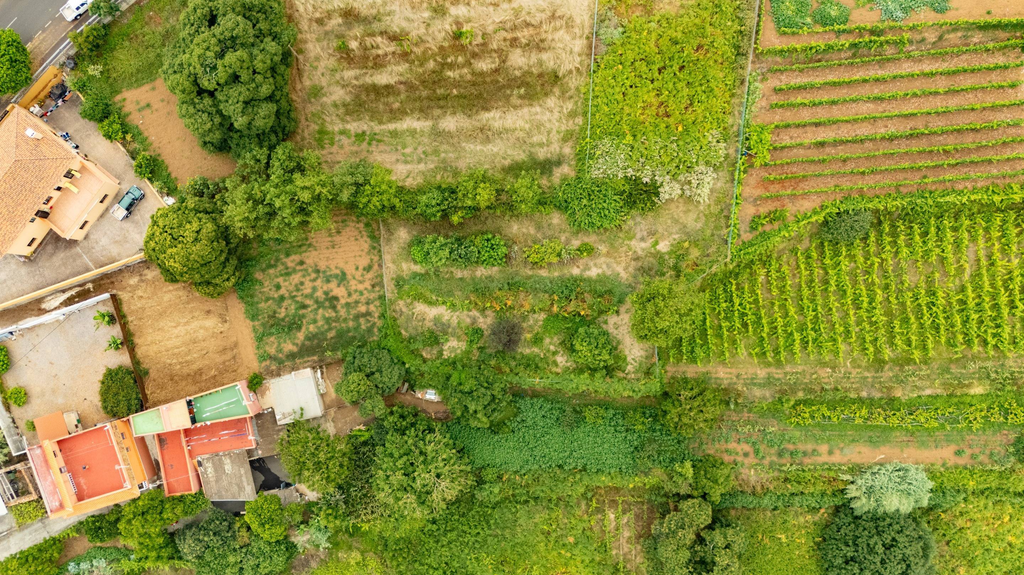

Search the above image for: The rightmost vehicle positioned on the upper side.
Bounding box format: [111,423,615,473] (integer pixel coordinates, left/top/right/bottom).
[110,186,145,221]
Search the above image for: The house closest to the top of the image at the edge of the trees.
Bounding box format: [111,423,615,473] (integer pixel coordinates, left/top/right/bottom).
[0,106,125,259]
